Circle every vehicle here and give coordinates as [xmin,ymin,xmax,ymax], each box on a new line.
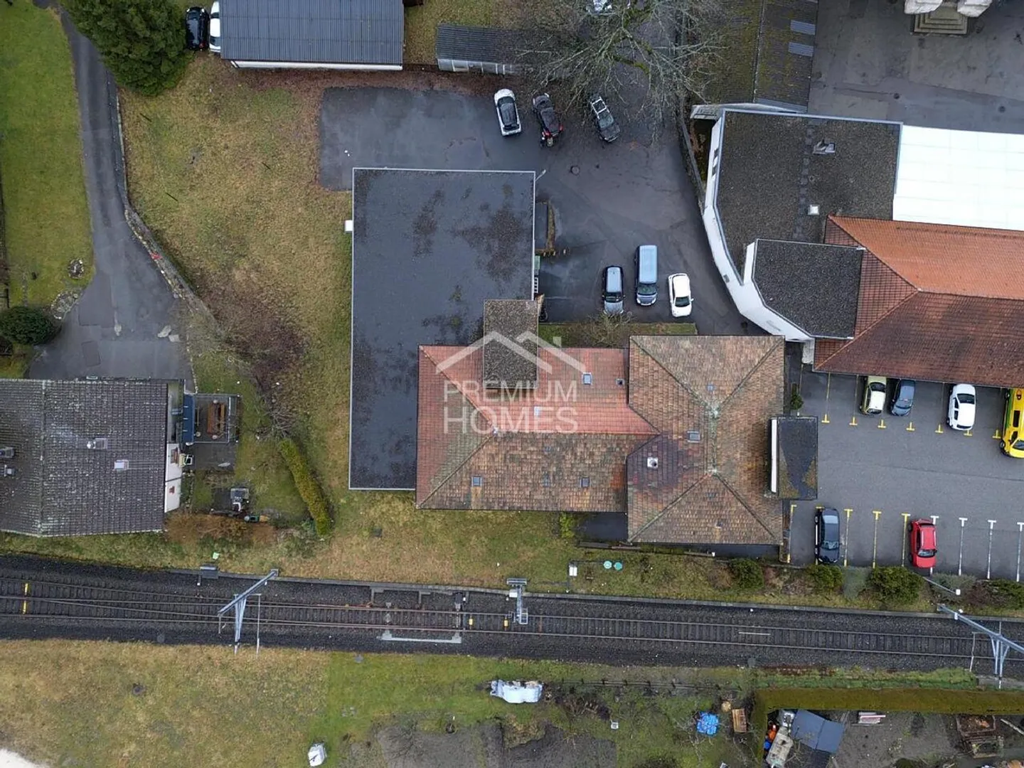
[859,376,889,416]
[813,506,844,562]
[204,3,219,55]
[533,93,561,141]
[632,244,660,306]
[944,384,978,432]
[494,89,521,138]
[547,138,552,154]
[996,388,1024,457]
[184,7,209,53]
[602,265,626,314]
[888,379,918,418]
[668,273,694,318]
[907,518,939,567]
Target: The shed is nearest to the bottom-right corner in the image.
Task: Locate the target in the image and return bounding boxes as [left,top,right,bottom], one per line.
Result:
[788,708,844,752]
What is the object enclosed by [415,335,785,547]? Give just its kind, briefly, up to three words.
building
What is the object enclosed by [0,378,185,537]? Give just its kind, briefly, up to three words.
house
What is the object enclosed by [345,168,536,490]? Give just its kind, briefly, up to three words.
building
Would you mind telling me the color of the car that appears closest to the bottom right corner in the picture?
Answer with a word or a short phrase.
red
